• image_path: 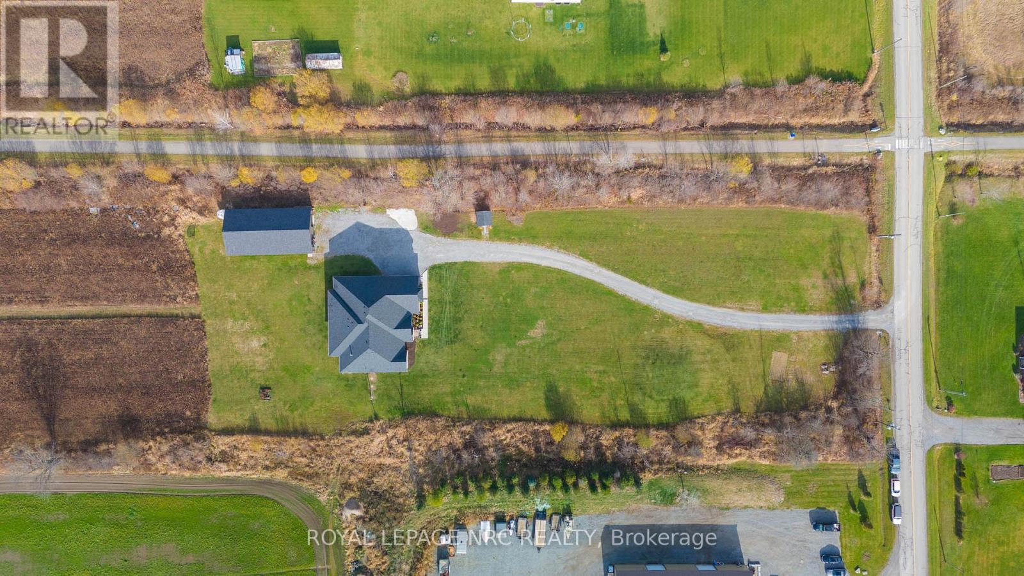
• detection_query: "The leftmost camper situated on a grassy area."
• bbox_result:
[223,44,242,72]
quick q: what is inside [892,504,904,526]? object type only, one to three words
vehicle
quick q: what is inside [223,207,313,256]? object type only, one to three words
barn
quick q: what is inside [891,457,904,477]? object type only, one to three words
vehicle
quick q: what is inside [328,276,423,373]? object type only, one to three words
house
